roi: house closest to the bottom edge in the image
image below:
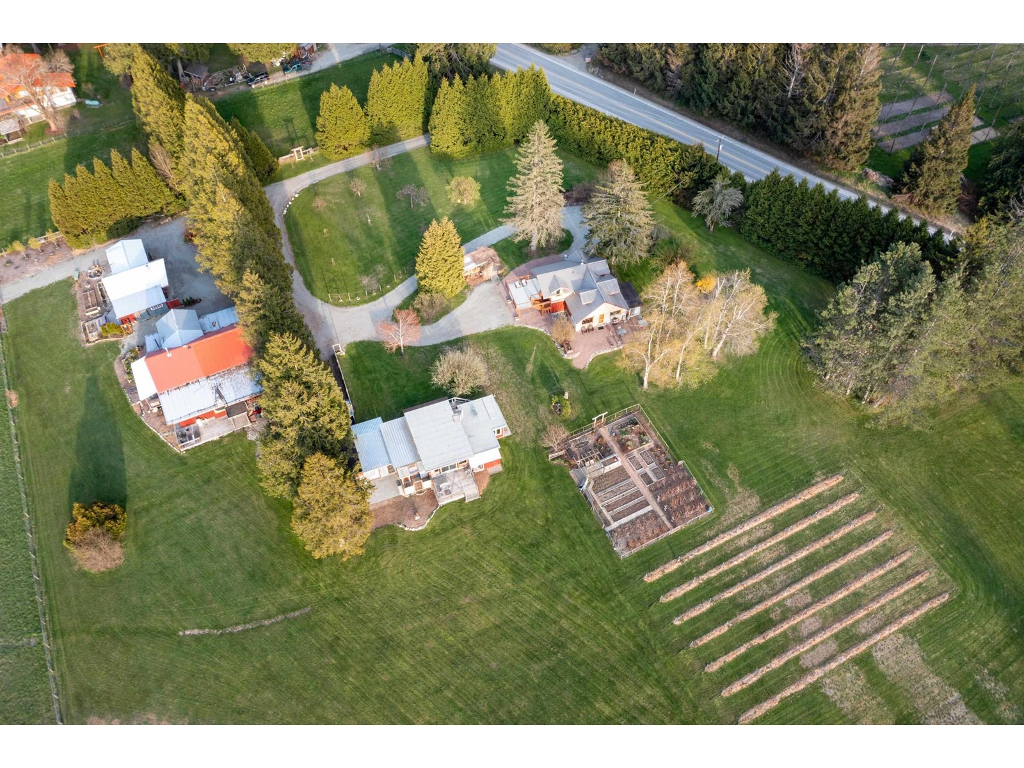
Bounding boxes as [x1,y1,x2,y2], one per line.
[353,395,513,510]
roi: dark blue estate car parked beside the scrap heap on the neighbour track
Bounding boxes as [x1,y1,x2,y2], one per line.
[244,69,271,85]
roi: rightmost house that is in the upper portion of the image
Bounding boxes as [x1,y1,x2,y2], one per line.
[506,249,642,330]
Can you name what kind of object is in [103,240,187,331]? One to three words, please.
shed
